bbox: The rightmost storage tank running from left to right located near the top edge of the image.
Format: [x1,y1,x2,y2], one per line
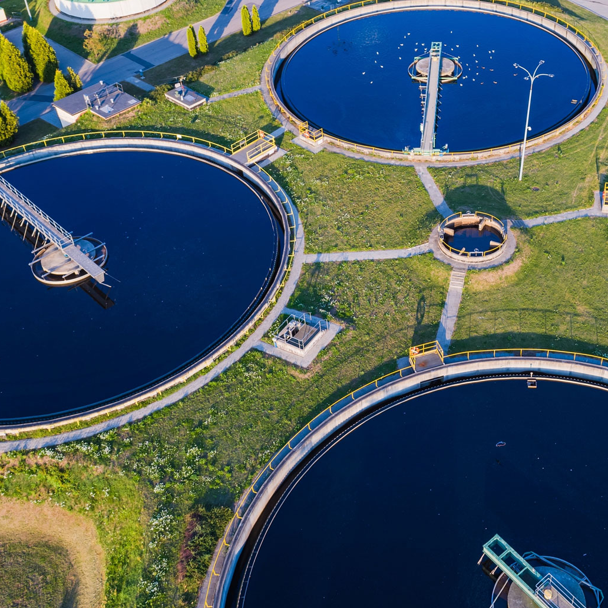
[269,0,605,164]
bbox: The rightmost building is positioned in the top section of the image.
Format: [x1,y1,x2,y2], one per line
[165,71,207,113]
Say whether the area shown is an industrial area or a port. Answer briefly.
industrial area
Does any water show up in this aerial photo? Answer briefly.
Yes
